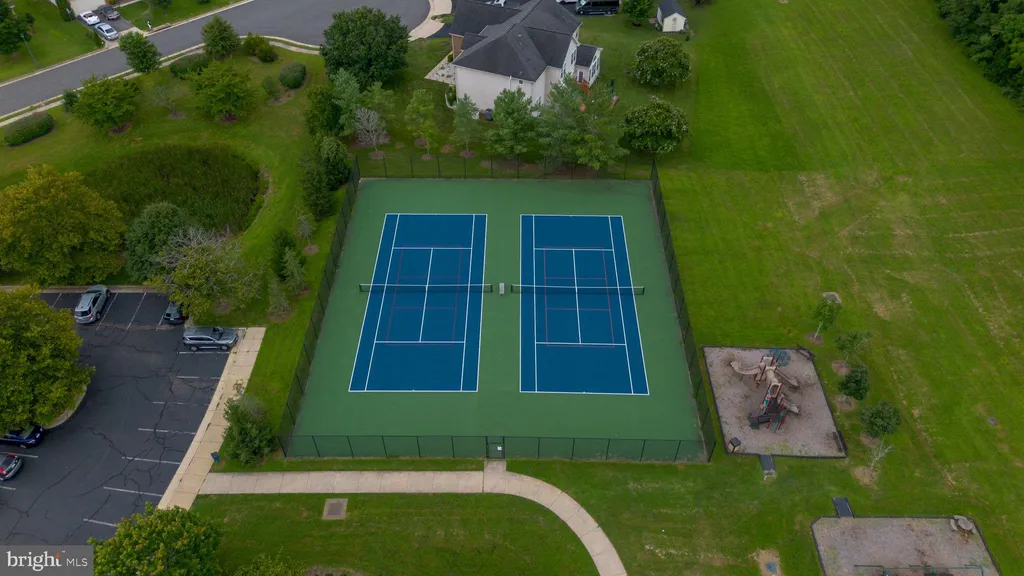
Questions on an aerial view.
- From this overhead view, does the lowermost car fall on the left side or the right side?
left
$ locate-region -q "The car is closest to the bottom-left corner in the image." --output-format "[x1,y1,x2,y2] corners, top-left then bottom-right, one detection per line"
[0,451,28,480]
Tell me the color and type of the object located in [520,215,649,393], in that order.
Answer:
blue tennis court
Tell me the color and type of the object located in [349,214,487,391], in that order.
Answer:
blue tennis court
